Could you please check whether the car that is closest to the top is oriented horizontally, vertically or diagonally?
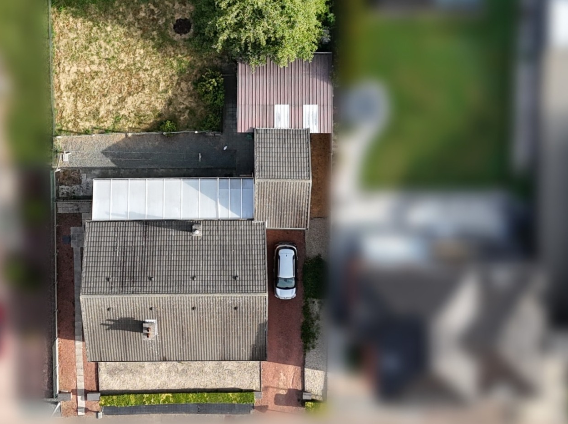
vertically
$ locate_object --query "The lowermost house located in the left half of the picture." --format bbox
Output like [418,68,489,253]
[78,217,270,363]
